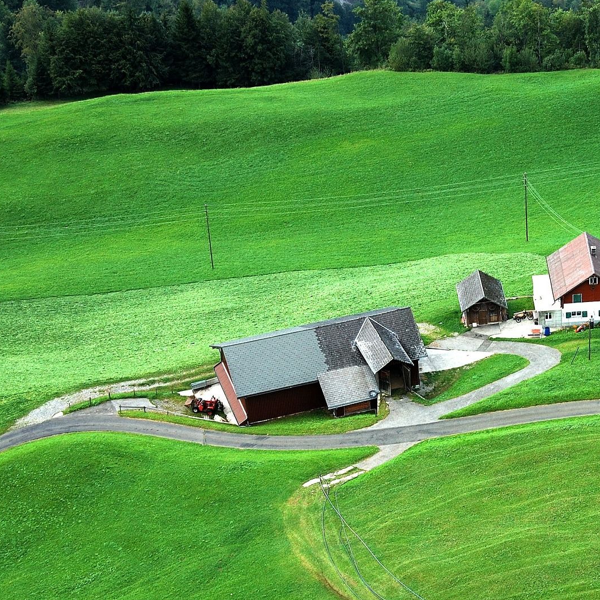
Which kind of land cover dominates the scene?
grass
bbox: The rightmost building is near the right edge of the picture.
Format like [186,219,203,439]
[529,233,600,328]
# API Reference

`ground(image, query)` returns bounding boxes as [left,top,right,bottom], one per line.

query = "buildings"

[529,233,600,328]
[209,307,429,427]
[456,270,508,329]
